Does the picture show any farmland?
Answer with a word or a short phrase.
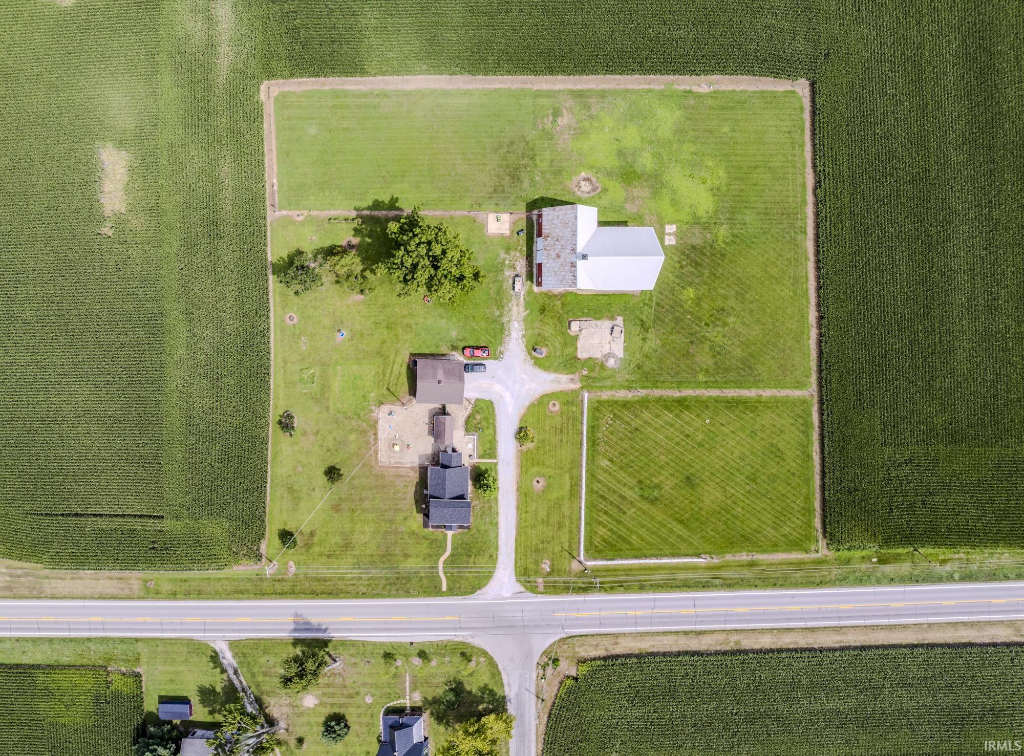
Yes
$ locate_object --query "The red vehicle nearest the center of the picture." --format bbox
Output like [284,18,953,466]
[462,347,491,359]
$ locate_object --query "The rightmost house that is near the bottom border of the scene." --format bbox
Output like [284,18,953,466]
[377,712,429,756]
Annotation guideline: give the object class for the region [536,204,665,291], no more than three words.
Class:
barn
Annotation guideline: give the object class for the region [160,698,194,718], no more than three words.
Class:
shed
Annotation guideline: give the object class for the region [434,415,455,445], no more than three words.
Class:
shed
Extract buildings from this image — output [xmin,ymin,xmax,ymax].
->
[434,415,455,445]
[160,698,194,718]
[377,712,429,756]
[536,204,665,291]
[180,726,242,756]
[416,359,464,404]
[429,445,472,532]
